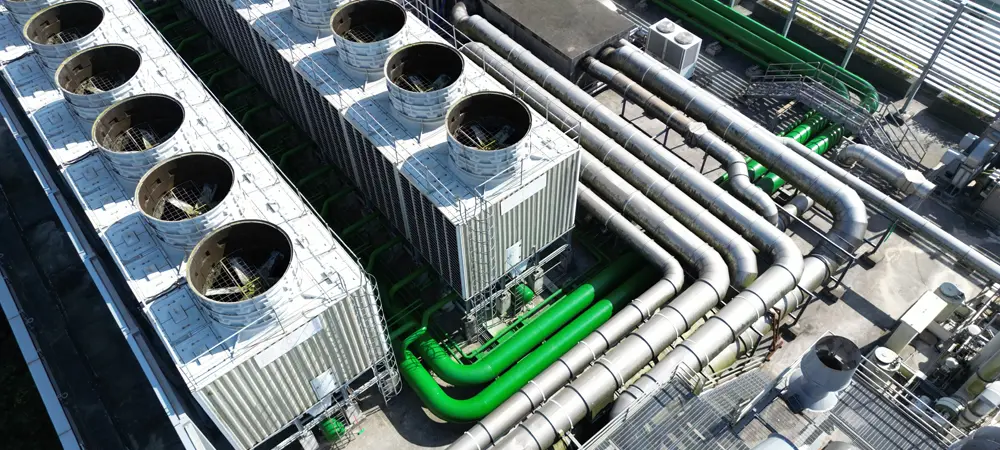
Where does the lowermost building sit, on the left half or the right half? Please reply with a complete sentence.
The lowermost building appears in the left half of the scene.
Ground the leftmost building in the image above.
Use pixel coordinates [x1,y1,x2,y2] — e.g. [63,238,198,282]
[0,73,225,450]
